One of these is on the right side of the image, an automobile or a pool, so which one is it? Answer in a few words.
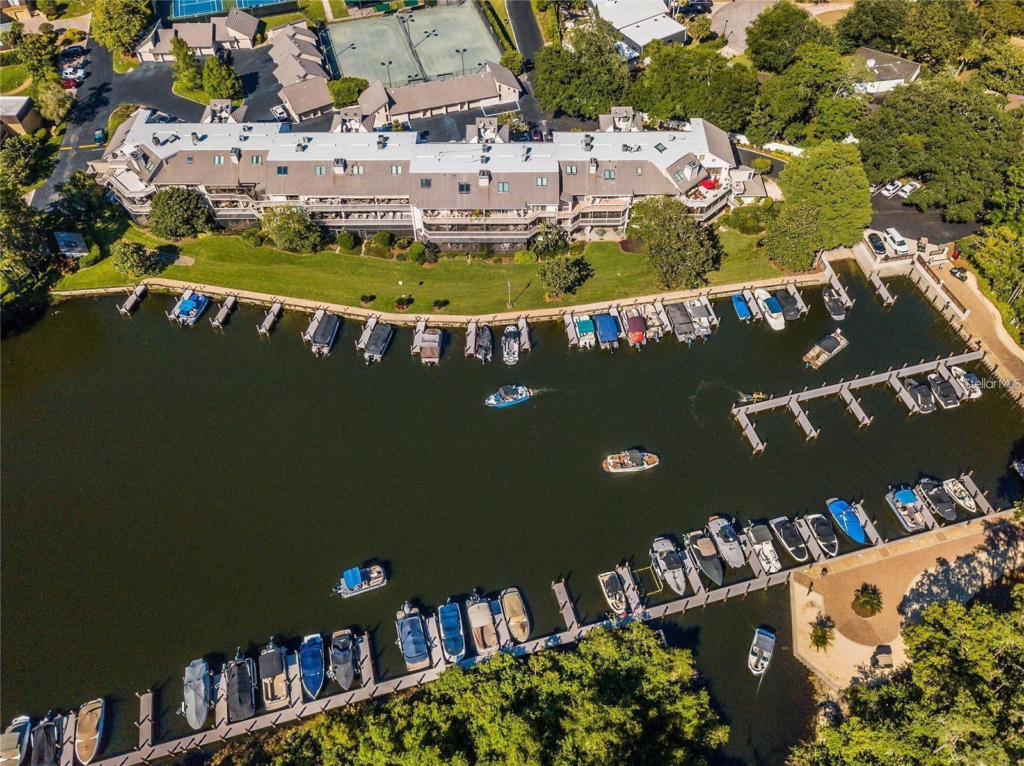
automobile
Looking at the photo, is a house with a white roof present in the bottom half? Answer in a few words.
No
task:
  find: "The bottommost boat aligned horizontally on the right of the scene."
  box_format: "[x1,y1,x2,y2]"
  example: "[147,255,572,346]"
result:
[600,447,659,472]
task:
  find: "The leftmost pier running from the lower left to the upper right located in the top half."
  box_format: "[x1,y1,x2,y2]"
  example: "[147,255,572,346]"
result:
[116,281,150,317]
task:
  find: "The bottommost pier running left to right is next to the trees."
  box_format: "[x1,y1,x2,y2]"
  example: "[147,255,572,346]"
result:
[53,531,792,766]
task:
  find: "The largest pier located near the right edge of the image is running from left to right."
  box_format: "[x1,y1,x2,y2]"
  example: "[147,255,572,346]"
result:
[731,346,986,455]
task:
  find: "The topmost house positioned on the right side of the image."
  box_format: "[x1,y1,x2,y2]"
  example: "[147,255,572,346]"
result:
[586,0,687,51]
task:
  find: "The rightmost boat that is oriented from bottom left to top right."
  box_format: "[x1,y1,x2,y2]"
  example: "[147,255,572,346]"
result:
[799,329,850,370]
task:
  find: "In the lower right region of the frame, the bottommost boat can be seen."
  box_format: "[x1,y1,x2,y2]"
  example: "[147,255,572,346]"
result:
[748,623,777,675]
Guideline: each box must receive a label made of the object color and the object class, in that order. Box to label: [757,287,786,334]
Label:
white boat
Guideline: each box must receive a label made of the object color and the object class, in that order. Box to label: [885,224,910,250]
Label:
white car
